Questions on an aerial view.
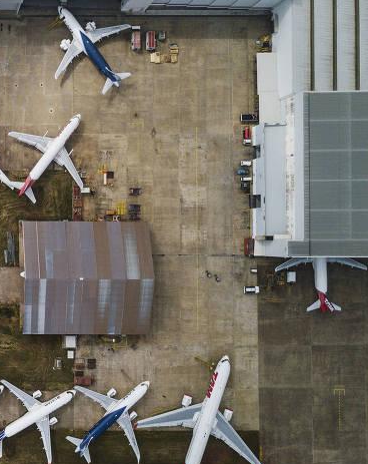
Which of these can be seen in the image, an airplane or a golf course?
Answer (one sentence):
There is an airplane in the scene.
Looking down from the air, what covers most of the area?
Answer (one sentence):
What you mostly see from above here is paved ground.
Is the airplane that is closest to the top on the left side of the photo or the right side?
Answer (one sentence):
You can find the airplane that is closest to the top on the left side of the picture.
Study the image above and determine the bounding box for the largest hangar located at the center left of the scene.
[21,220,154,334]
